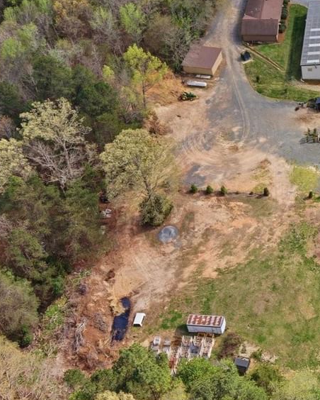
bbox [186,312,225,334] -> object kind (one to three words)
trailer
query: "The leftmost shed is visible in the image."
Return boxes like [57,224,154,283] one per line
[179,41,225,75]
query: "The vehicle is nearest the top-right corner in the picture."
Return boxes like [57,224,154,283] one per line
[174,91,193,103]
